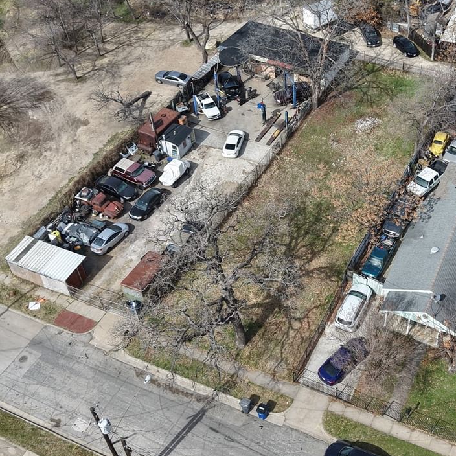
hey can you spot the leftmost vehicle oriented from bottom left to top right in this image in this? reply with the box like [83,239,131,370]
[84,219,136,259]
